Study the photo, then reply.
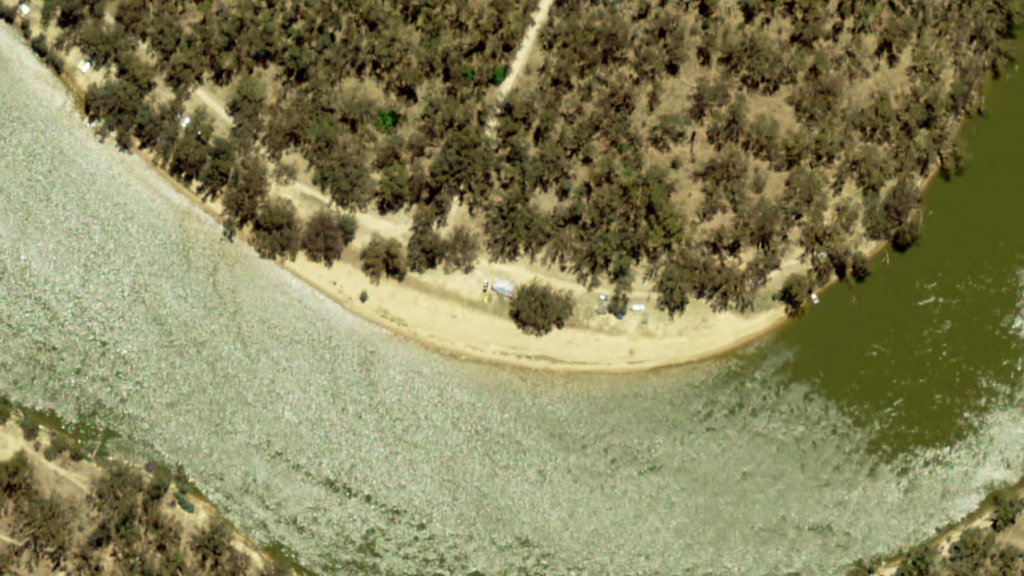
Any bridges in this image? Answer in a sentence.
No, there appears to be no bridge in this shot.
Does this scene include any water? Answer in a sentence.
Yes, there is water in the image.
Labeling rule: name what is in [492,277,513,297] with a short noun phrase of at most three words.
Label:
tent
